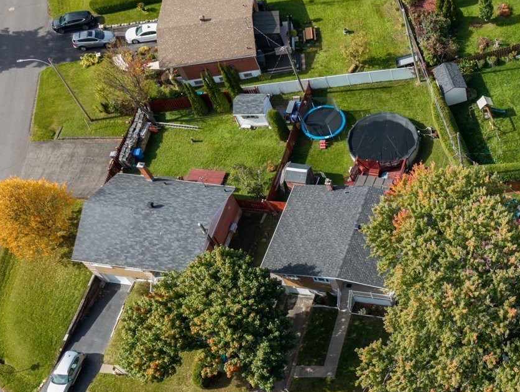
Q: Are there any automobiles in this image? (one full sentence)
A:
Yes, there's an automobile here.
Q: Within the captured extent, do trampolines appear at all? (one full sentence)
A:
Yes, the picture does show a trampoline.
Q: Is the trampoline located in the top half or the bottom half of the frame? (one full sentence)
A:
It is in the top half that the trampoline appears.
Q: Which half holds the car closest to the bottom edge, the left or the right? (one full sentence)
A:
The car closest to the bottom edge sits on the left side.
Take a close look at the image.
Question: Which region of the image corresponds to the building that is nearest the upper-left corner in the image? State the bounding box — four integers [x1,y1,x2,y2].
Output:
[157,0,259,85]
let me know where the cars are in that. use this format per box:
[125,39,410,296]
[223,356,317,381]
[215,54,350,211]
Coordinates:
[45,348,90,392]
[51,9,97,31]
[70,28,114,49]
[125,22,157,42]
